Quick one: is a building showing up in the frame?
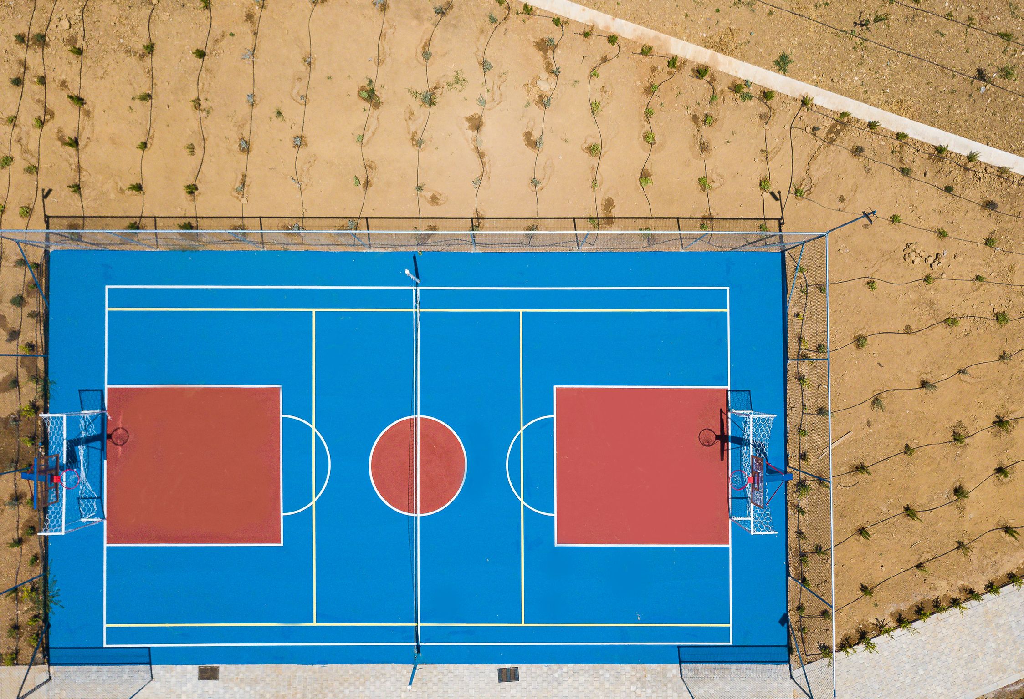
No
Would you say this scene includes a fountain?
No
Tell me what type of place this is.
sports ground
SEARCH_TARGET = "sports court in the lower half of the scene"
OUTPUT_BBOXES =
[48,249,790,666]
